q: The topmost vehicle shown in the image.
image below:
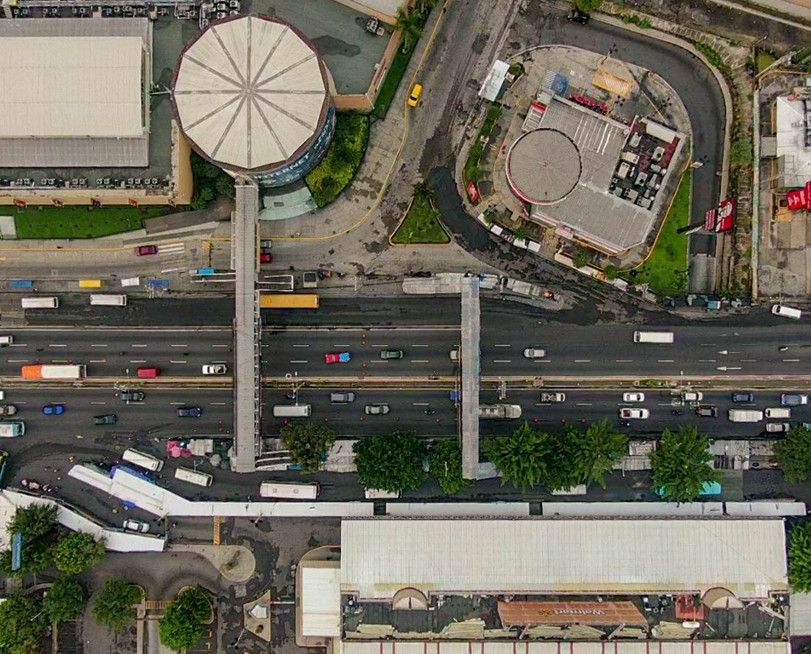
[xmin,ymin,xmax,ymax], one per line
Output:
[569,7,589,21]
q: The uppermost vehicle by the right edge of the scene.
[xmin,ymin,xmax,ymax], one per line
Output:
[772,302,805,320]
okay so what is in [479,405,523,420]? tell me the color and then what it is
gray vehicle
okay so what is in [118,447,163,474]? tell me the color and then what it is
white vehicle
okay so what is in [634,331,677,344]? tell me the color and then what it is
white vehicle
